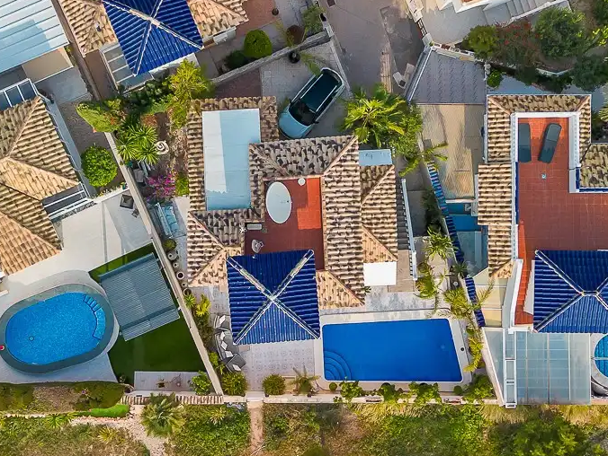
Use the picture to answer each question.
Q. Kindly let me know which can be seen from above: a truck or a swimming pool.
swimming pool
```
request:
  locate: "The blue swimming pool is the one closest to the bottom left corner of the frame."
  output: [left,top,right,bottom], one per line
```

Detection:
[0,278,122,378]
